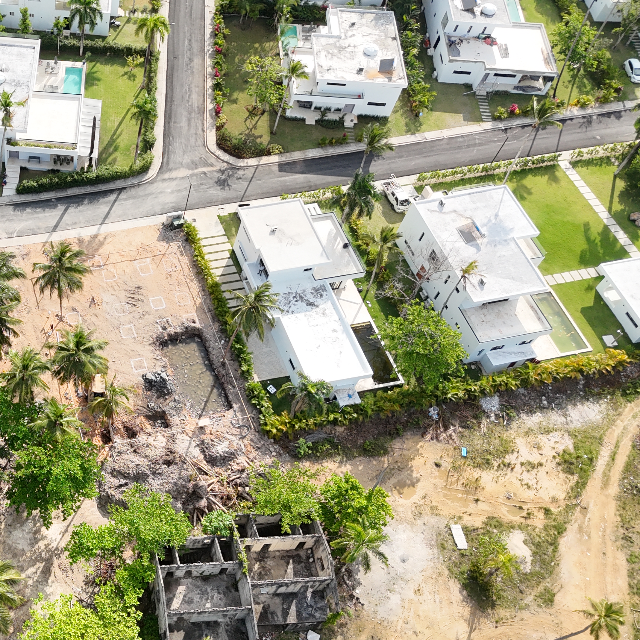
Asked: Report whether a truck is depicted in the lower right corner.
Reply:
No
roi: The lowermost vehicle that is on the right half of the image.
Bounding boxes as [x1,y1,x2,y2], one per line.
[383,174,413,211]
